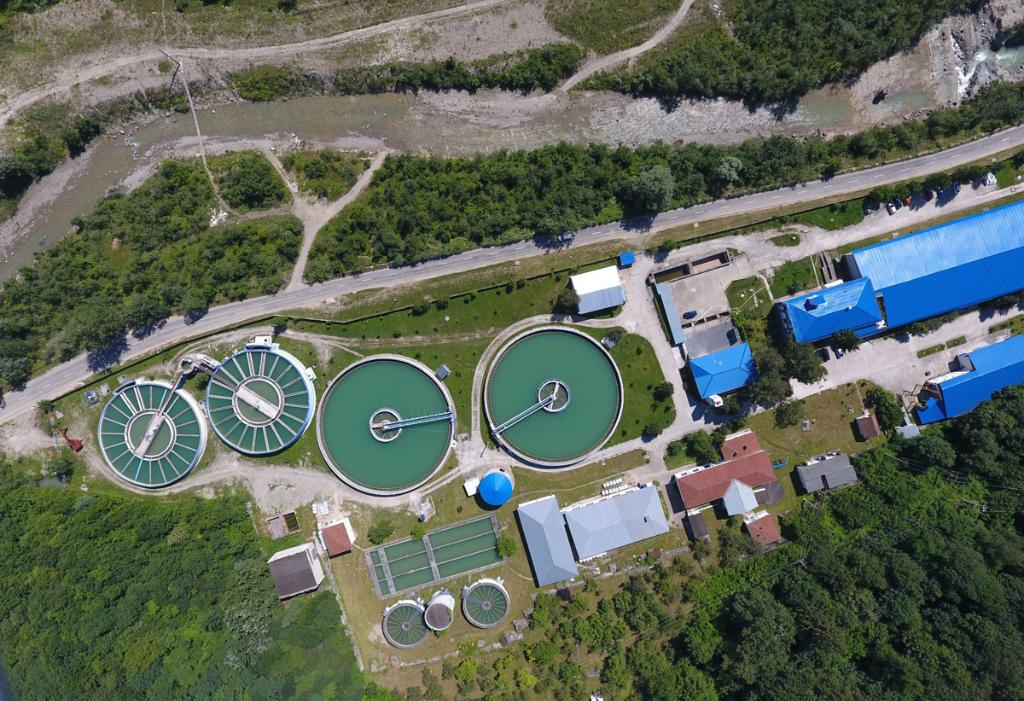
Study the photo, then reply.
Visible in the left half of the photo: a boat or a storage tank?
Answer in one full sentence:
You can see a storage tank in the left half of the photo.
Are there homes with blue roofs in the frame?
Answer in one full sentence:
Yes, the frame does contain a home with a blue roof.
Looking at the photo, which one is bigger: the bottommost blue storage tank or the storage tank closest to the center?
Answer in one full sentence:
The storage tank closest to the center is larger than the bottommost blue storage tank.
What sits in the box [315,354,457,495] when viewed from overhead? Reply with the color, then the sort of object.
green storage tank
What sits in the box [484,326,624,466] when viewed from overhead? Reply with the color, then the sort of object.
green storage tank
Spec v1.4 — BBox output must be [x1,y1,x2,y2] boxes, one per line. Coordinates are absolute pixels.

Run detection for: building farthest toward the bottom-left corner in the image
[268,543,324,598]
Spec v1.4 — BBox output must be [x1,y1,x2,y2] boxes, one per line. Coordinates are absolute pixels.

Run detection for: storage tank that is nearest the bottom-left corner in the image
[96,379,210,489]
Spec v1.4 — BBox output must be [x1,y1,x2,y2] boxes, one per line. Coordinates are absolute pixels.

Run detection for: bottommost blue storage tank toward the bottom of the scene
[479,465,512,504]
